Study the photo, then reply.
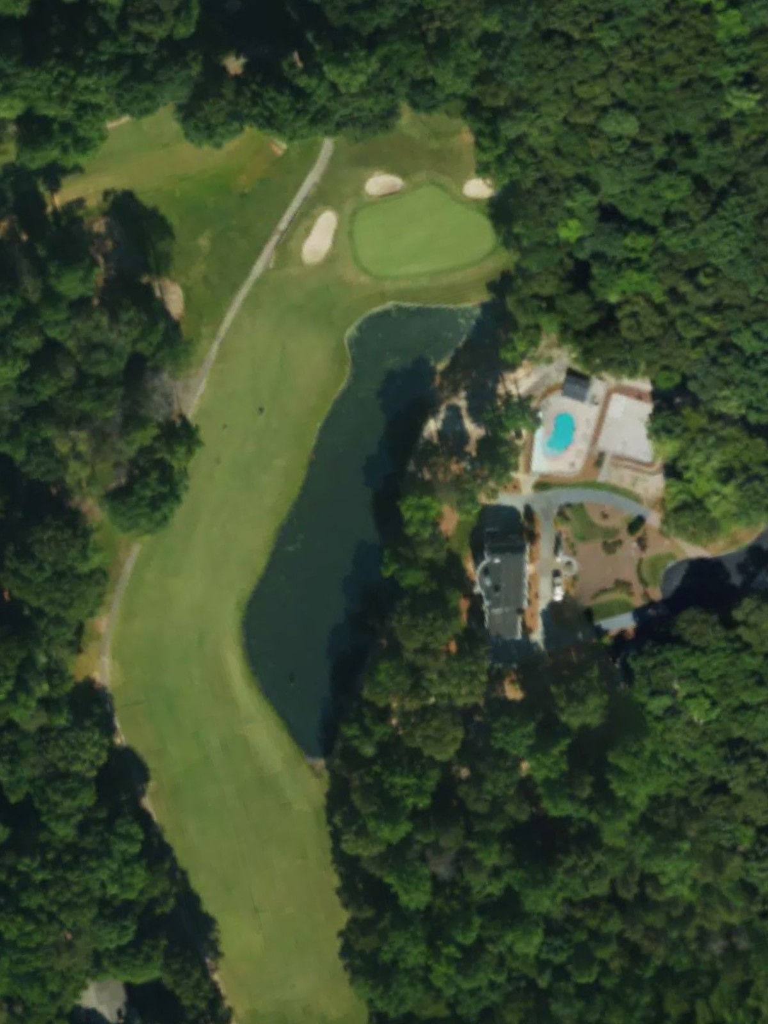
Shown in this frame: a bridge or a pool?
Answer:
pool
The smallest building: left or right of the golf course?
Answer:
on the right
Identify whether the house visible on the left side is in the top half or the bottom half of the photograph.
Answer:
bottom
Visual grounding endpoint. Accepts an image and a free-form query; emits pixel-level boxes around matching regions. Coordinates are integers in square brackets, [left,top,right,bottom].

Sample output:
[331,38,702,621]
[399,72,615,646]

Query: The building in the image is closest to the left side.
[81,981,125,1024]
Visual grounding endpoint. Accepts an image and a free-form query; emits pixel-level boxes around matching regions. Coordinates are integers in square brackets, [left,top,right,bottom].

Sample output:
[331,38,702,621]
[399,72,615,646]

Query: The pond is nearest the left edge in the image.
[244,305,482,759]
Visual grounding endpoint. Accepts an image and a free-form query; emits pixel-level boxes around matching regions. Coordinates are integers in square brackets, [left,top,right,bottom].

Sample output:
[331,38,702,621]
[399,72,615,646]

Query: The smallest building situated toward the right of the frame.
[562,369,589,401]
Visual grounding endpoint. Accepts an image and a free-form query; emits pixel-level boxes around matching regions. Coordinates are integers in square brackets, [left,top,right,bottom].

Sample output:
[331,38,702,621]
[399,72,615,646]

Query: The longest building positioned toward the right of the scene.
[474,526,535,639]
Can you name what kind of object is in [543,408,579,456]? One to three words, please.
swimming pool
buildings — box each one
[474,526,535,639]
[81,981,125,1024]
[562,369,589,401]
